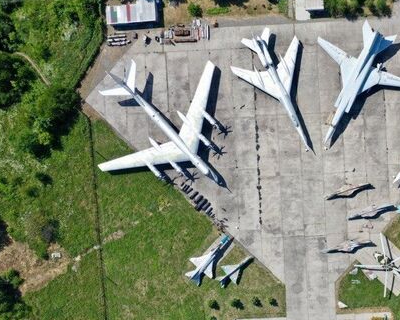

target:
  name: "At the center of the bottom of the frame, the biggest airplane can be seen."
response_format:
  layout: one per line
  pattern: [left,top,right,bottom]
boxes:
[184,233,233,286]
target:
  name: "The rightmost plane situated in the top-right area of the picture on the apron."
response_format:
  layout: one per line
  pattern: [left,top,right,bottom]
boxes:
[317,20,400,144]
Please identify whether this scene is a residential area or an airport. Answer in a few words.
airport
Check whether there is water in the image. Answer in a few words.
No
